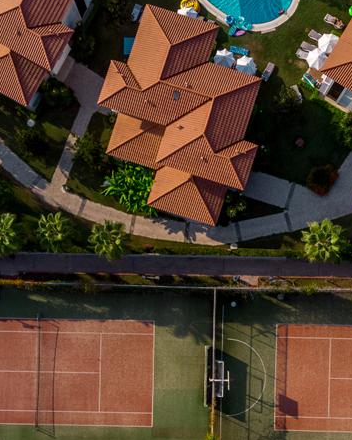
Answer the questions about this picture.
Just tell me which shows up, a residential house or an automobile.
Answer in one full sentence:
The image shows a residential house.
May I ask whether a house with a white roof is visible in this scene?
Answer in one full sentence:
No, there appears to be no house with a white roof in this shot.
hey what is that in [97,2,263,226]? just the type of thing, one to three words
house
